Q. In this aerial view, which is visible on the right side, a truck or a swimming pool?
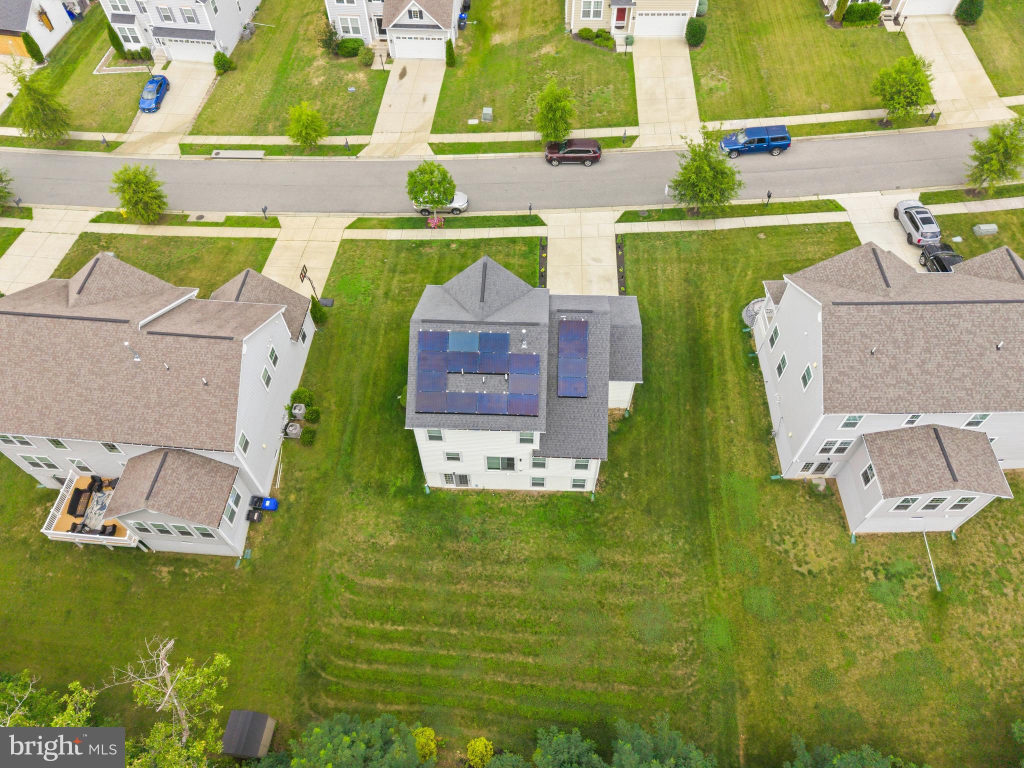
truck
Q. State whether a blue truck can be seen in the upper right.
Yes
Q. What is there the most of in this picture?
grass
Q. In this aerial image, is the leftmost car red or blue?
blue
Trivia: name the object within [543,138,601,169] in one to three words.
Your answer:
car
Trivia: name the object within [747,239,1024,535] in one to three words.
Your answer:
house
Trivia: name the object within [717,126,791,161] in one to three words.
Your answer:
truck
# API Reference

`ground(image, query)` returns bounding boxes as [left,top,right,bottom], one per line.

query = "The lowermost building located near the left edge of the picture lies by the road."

[0,252,316,560]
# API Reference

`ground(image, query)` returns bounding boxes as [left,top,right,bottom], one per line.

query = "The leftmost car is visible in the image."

[137,76,172,112]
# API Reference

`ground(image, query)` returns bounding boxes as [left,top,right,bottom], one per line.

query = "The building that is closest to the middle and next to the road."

[406,255,641,493]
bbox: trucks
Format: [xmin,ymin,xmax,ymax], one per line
[914,245,958,271]
[717,126,791,161]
